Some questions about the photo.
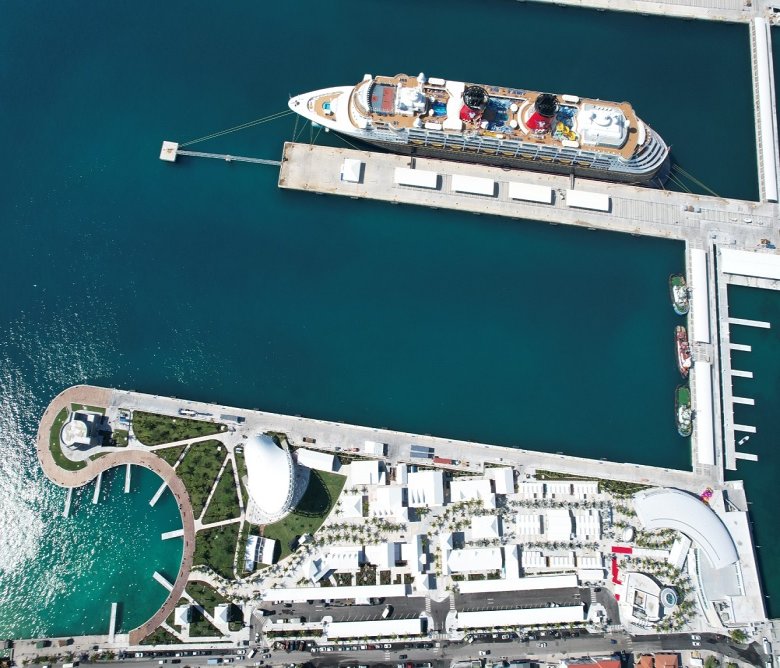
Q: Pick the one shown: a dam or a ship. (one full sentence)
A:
This aerial view contains a ship.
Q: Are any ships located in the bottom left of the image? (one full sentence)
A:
No, no ship is visible in the bottom left of the image.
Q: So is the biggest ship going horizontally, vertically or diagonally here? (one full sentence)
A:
What the image shows is the biggest ship lying horizontally.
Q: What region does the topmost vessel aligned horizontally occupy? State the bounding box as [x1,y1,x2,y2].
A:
[287,70,677,184]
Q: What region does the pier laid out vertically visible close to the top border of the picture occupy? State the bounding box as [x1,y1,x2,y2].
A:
[748,16,780,206]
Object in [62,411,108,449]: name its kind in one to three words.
house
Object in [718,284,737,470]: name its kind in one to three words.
pier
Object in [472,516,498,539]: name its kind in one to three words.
building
